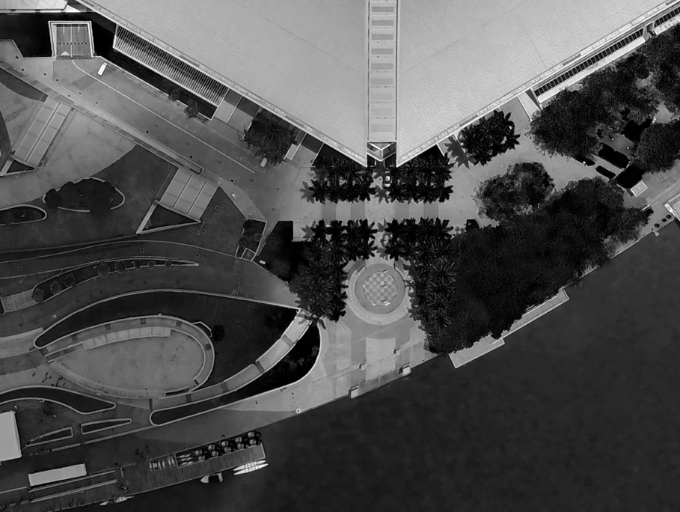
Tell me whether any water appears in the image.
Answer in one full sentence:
Yes, the picture does contain water.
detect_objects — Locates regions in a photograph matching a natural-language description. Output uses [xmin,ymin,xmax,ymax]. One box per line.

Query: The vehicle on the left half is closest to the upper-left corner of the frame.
[96,61,109,77]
